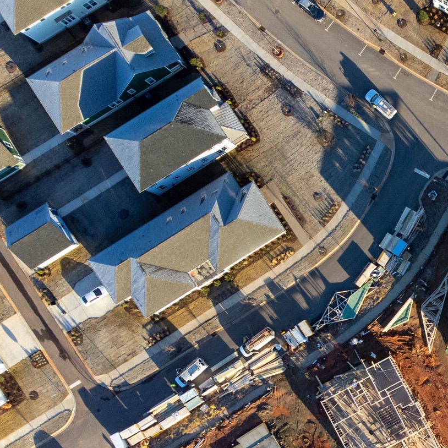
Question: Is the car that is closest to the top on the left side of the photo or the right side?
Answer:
right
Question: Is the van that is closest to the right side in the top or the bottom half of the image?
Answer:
top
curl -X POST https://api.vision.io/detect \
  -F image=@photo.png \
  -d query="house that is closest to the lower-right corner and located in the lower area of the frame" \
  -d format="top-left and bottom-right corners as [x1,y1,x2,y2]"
[317,353,445,448]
